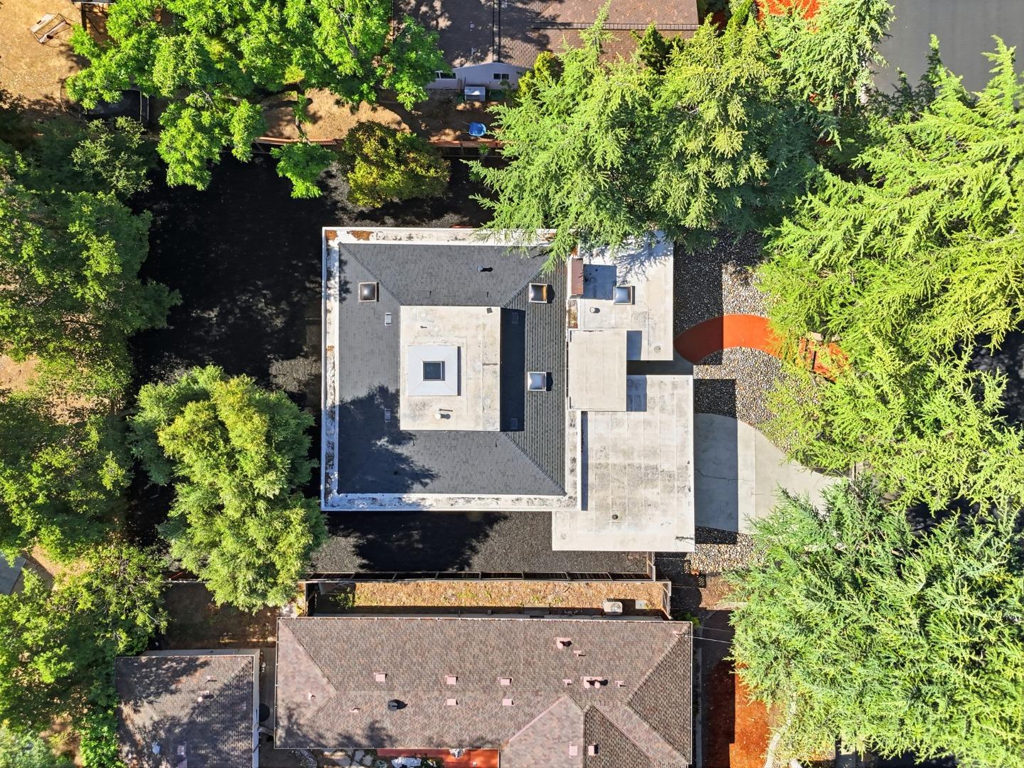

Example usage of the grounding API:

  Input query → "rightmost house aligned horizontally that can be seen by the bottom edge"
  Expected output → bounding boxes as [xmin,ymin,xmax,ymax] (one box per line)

[272,610,695,768]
